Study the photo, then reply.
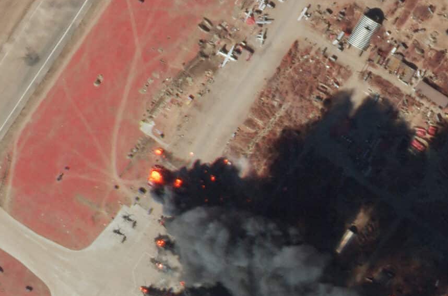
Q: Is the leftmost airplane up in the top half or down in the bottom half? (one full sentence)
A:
Seen from above, the leftmost airplane lies in the top half of the view.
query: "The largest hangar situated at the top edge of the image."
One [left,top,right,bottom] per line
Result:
[348,13,380,50]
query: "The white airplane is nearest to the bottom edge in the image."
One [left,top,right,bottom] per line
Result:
[217,47,238,67]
